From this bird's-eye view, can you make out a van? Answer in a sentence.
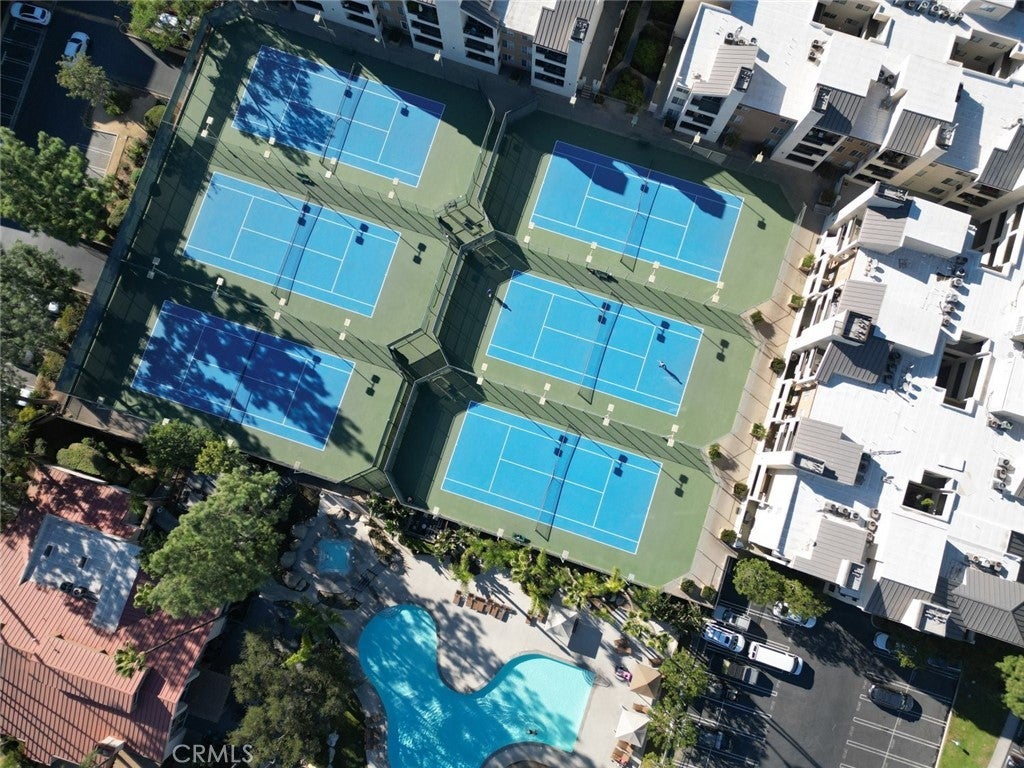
Yes, the frame does contain a van.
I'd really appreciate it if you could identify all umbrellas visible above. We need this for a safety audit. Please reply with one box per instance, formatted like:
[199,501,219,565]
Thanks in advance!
[543,604,579,644]
[629,663,662,698]
[614,708,650,746]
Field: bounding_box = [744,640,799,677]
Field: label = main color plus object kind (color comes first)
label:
white van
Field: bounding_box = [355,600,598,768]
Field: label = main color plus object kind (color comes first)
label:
blue swimming pool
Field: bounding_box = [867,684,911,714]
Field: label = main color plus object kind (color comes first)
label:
black car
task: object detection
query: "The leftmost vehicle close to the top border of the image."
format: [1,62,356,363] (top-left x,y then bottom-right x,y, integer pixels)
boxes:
[11,2,53,28]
